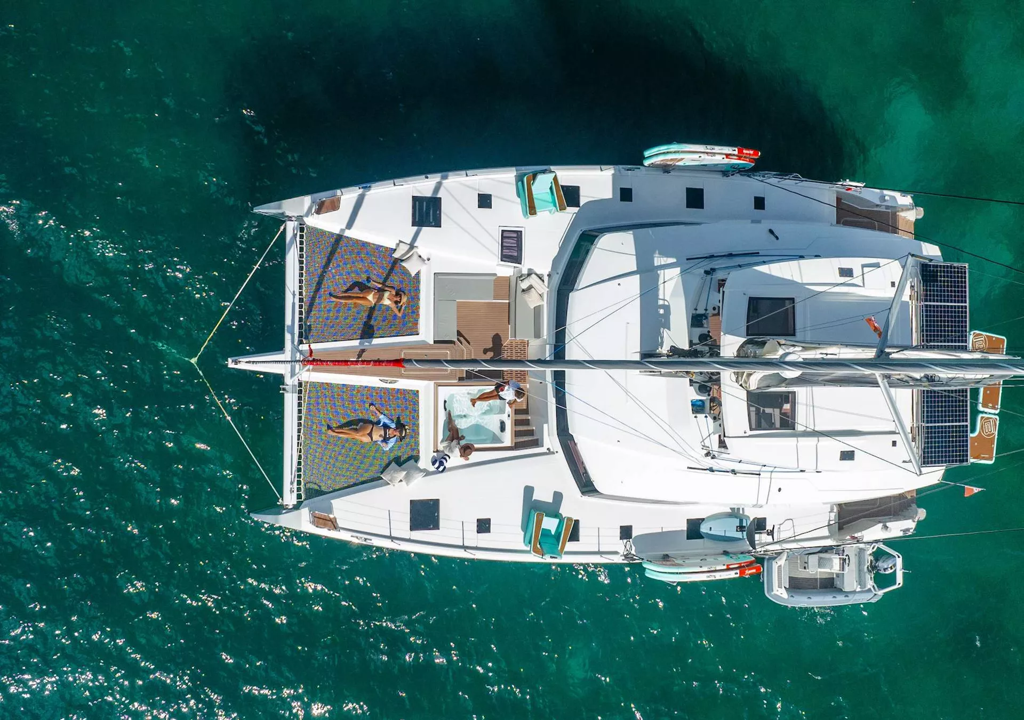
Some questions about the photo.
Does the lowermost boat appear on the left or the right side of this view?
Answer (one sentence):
The lowermost boat is on the right side of the image.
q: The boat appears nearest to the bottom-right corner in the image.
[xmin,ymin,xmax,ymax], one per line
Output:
[763,542,910,607]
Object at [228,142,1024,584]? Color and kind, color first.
white boat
